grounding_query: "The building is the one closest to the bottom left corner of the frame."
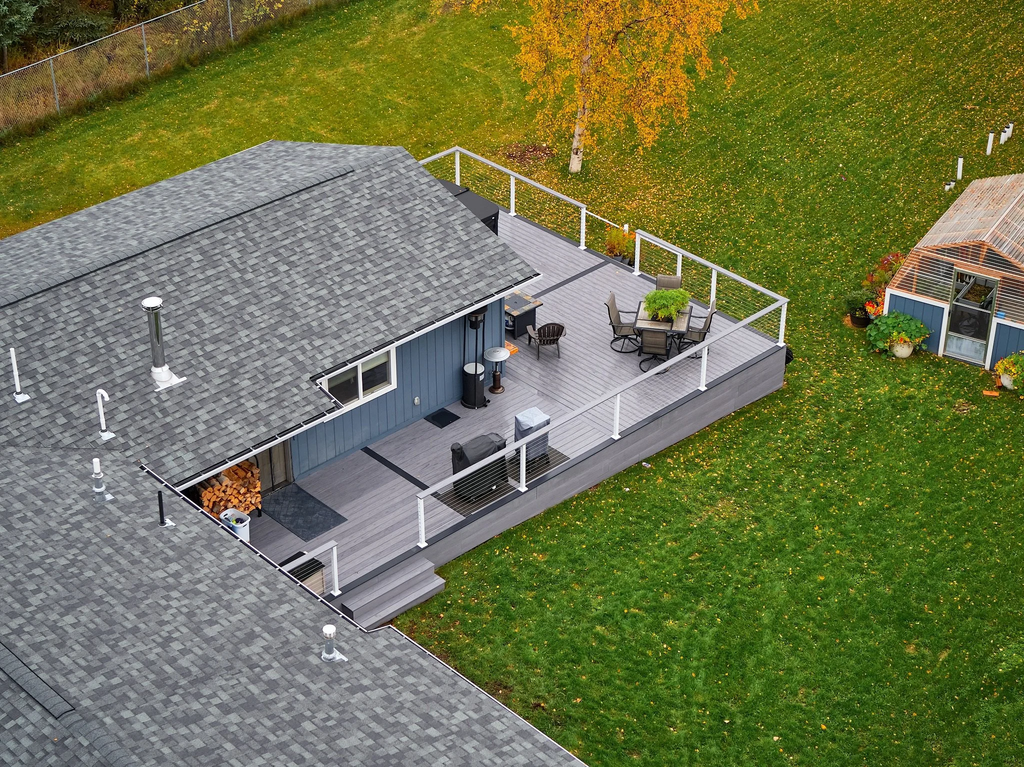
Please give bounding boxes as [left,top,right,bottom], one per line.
[0,145,588,767]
